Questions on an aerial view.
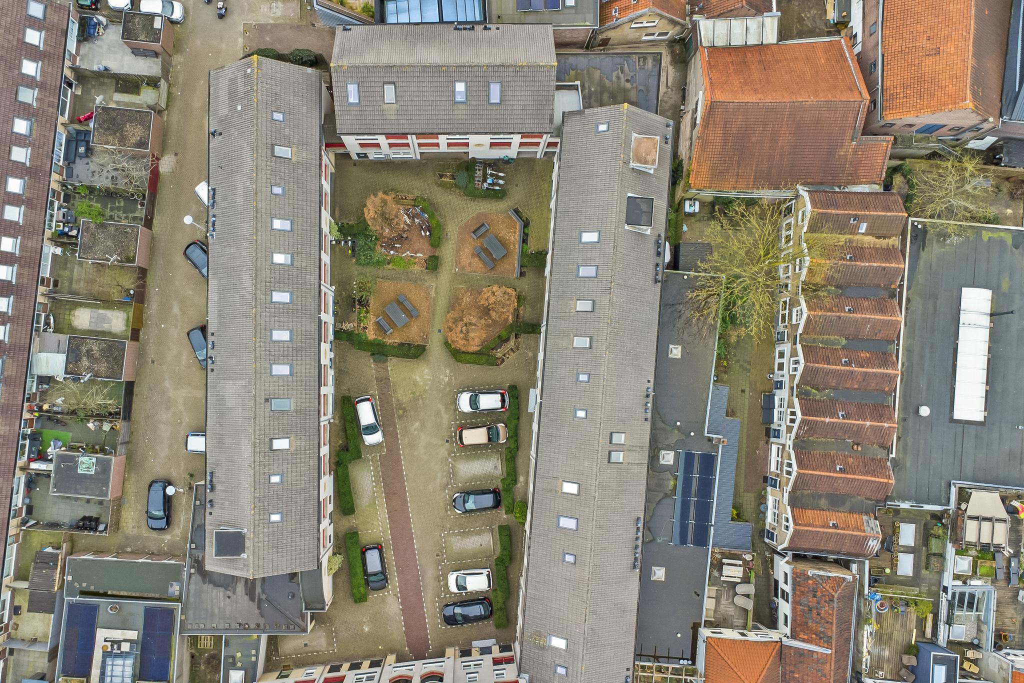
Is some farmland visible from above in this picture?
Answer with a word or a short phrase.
No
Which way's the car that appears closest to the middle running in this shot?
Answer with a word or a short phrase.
horizontally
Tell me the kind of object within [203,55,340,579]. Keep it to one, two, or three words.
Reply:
building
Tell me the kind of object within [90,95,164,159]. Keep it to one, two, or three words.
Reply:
shed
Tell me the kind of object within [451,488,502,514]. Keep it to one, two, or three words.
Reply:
car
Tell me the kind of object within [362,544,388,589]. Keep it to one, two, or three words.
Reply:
car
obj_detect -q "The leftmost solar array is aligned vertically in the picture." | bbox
[60,602,98,676]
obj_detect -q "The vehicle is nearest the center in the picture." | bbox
[457,389,509,415]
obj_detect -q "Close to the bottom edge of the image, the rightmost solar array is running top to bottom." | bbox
[138,605,175,681]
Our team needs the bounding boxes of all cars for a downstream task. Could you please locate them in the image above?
[195,179,206,205]
[457,423,508,447]
[183,432,204,452]
[187,324,205,374]
[77,0,103,13]
[109,0,133,14]
[457,389,509,415]
[145,479,173,530]
[447,569,494,594]
[442,597,494,626]
[186,238,205,279]
[362,544,388,589]
[135,0,187,26]
[451,488,502,514]
[356,395,382,447]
